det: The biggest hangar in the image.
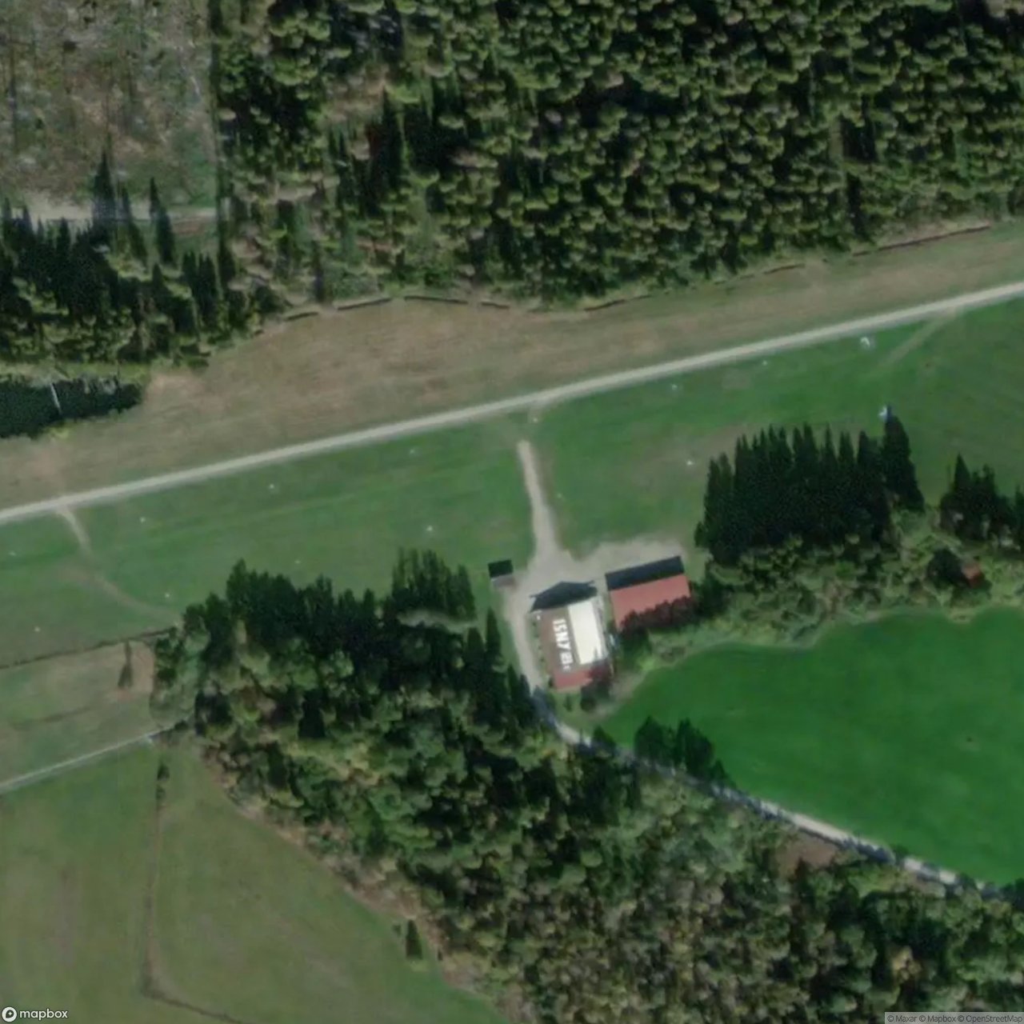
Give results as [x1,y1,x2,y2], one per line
[534,596,616,691]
